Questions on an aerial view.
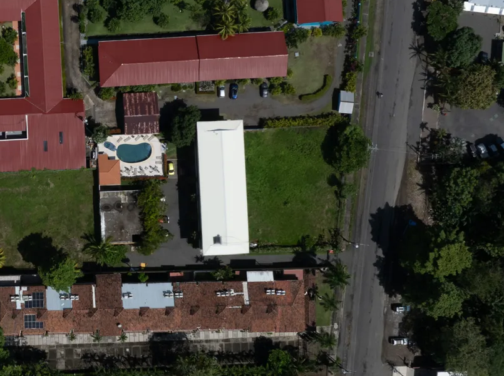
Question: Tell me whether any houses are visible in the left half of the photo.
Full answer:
Yes, a house can be seen in the left half of the photo.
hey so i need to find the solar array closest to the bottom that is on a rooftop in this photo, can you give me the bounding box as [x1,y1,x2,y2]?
[25,315,43,329]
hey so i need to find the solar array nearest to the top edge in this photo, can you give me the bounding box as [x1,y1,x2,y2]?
[25,292,43,308]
